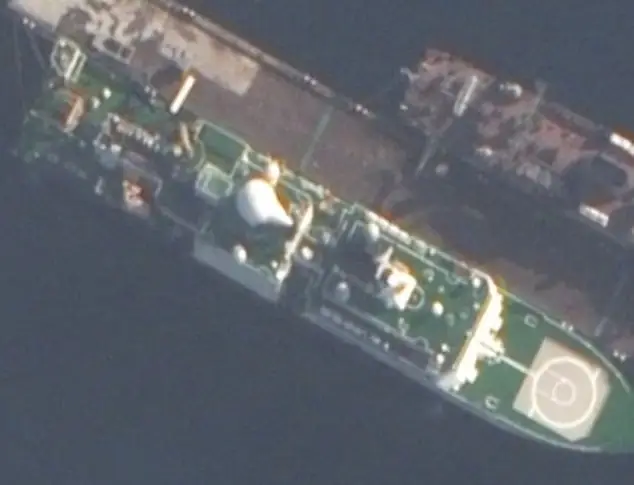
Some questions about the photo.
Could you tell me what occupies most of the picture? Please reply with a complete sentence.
What you mostly see from above here is water.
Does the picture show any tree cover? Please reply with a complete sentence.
No, no tree cover is visible.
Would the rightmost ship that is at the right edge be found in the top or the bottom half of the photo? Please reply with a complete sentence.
You can find the rightmost ship that is at the right edge in the top half.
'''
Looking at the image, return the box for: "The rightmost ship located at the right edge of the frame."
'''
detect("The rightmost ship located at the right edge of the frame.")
[400,47,634,251]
